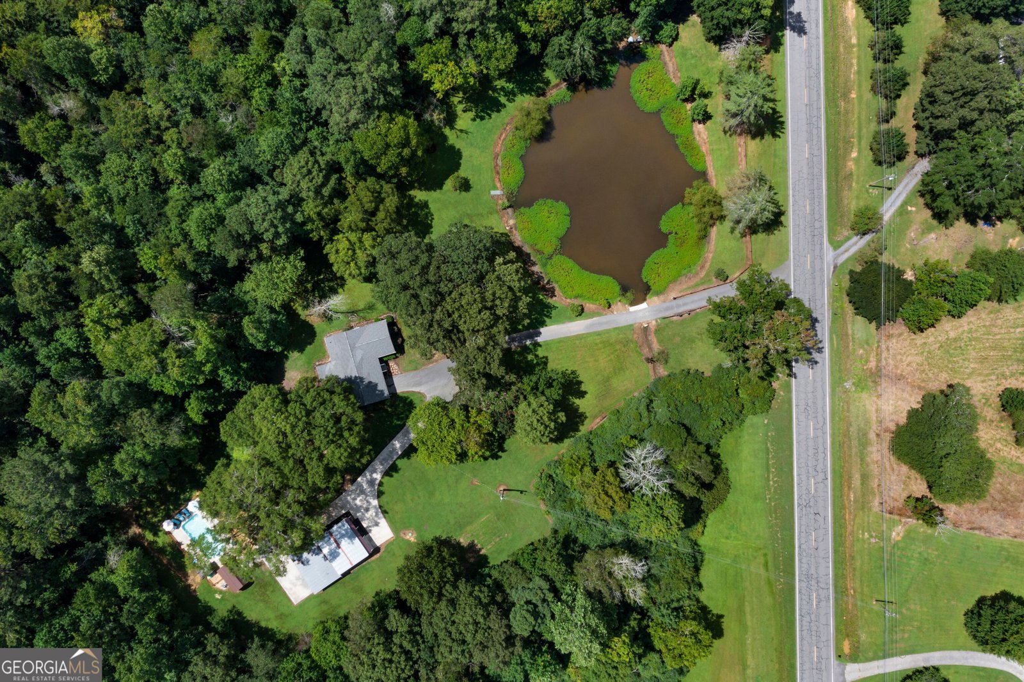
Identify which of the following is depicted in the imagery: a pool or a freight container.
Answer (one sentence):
There is a pool in the scene.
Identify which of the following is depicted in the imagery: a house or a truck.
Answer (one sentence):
Visible in the photo is a house.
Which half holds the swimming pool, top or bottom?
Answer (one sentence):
The bottom half of the photo is where the swimming pool is.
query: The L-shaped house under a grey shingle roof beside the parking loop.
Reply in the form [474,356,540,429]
[316,319,396,406]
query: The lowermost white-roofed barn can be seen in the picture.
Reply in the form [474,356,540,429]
[291,512,373,594]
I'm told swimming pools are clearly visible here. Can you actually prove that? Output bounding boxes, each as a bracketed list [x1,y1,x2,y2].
[182,514,214,543]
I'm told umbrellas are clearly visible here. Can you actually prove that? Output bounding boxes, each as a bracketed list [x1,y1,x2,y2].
[188,500,200,512]
[163,519,175,531]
